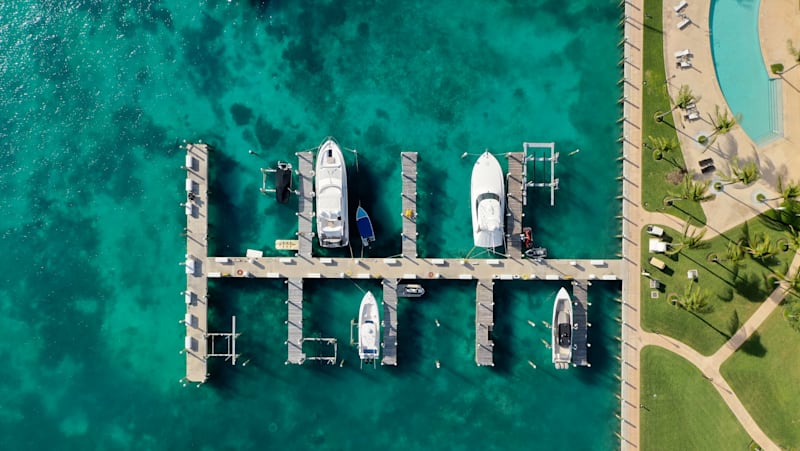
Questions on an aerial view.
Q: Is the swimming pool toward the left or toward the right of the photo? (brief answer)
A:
right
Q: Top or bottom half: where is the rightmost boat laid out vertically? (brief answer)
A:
bottom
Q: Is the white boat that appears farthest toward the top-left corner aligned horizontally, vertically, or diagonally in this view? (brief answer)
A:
vertically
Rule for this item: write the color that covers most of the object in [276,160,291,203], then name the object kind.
black boat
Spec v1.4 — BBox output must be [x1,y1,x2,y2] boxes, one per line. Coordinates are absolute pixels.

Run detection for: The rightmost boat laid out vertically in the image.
[552,286,573,367]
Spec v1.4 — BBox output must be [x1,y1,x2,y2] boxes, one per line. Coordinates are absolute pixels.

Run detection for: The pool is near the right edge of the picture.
[706,0,786,148]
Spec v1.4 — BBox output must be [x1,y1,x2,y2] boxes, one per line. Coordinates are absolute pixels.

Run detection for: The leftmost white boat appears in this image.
[316,136,351,249]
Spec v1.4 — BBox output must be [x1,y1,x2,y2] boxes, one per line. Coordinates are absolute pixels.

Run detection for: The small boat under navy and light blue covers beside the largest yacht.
[359,208,377,248]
